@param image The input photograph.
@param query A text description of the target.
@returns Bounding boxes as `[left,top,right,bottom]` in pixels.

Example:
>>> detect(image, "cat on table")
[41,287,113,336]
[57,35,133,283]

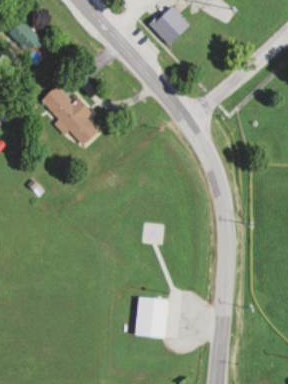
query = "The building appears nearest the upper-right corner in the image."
[152,8,190,45]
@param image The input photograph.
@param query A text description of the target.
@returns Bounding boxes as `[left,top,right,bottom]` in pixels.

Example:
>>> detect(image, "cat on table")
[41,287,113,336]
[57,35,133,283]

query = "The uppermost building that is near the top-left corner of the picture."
[10,22,40,51]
